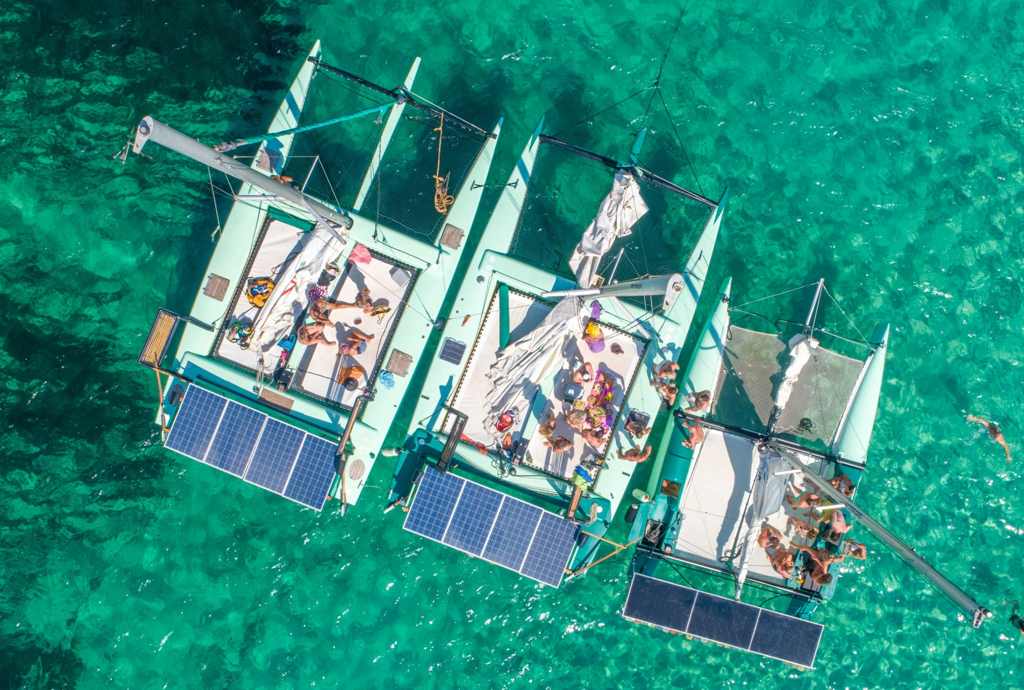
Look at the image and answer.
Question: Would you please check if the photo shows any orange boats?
No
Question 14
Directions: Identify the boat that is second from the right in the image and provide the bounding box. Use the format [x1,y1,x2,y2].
[384,121,723,588]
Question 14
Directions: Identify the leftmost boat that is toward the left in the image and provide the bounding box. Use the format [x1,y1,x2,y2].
[112,39,503,516]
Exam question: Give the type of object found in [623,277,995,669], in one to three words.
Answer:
boat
